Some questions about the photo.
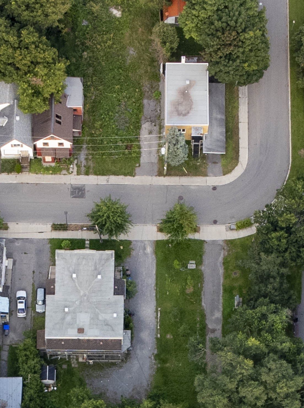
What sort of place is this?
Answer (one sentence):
It's a residential area.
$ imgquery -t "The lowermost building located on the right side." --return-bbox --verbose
[164,53,225,160]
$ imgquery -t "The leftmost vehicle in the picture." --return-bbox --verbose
[14,290,28,318]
